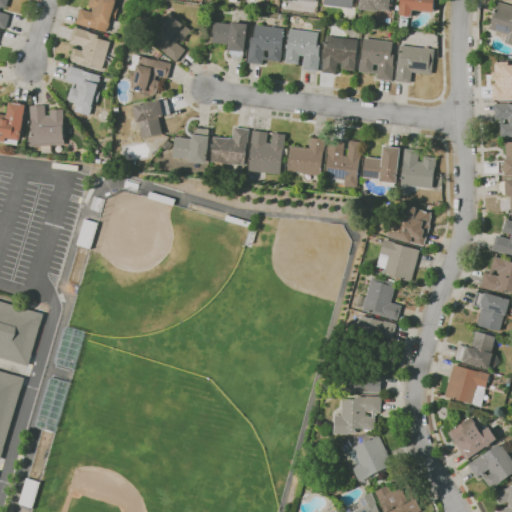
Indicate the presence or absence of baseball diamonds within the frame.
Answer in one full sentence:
Yes, a baseball diamond is visible in the scene.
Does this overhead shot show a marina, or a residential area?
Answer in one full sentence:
This image shows a residential area.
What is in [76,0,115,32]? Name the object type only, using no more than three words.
house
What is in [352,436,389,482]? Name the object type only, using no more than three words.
house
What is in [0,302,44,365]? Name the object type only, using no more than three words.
building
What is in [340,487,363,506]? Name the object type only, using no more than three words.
swimming pool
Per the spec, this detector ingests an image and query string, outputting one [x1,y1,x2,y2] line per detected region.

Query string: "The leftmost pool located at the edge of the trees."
[117,76,130,106]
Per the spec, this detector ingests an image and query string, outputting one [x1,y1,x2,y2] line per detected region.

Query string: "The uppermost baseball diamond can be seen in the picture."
[76,190,254,338]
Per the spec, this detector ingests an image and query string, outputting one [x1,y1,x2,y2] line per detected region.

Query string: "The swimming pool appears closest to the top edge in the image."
[411,12,431,28]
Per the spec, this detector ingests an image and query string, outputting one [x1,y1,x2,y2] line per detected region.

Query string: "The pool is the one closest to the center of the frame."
[366,180,390,195]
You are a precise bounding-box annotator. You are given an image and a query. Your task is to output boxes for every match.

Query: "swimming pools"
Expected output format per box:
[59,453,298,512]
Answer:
[411,12,431,28]
[366,180,390,195]
[117,76,130,106]
[300,496,326,512]
[340,487,363,506]
[492,38,512,54]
